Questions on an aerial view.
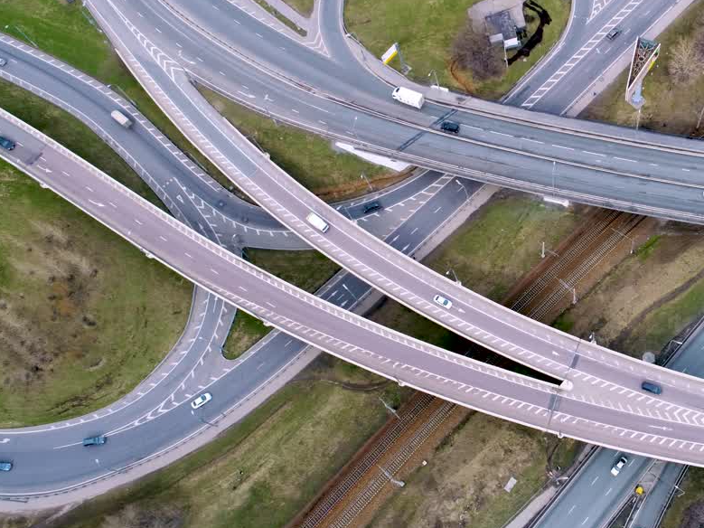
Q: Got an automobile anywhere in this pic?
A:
Yes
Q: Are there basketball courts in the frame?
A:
No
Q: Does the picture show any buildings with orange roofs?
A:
No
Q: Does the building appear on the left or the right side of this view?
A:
right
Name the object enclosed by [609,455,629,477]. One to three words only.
car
